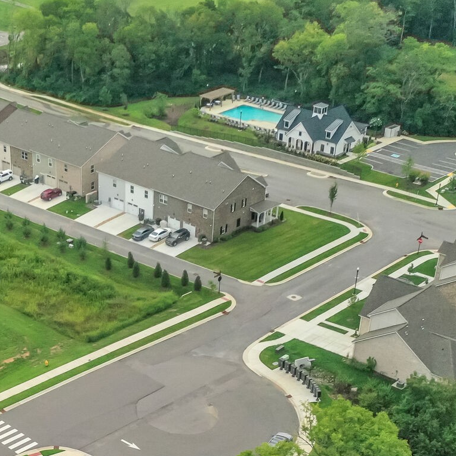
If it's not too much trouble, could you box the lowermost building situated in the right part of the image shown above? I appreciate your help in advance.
[350,275,456,388]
